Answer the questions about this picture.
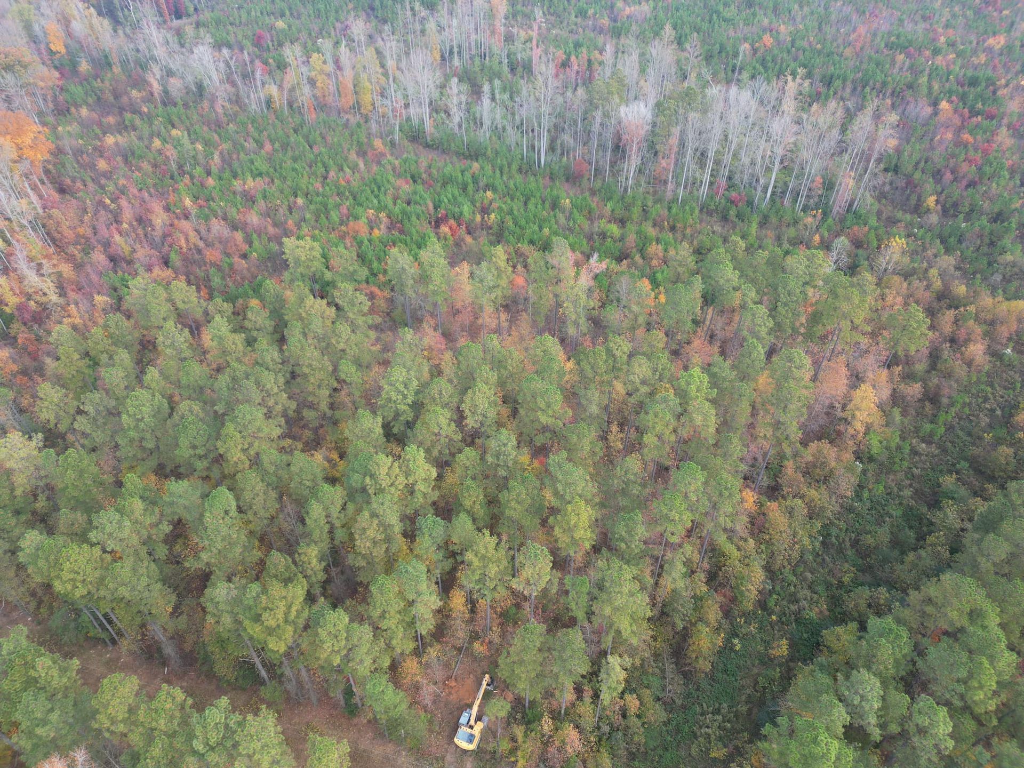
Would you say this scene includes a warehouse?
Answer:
No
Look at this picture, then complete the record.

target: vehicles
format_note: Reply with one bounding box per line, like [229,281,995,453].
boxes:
[453,672,500,757]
